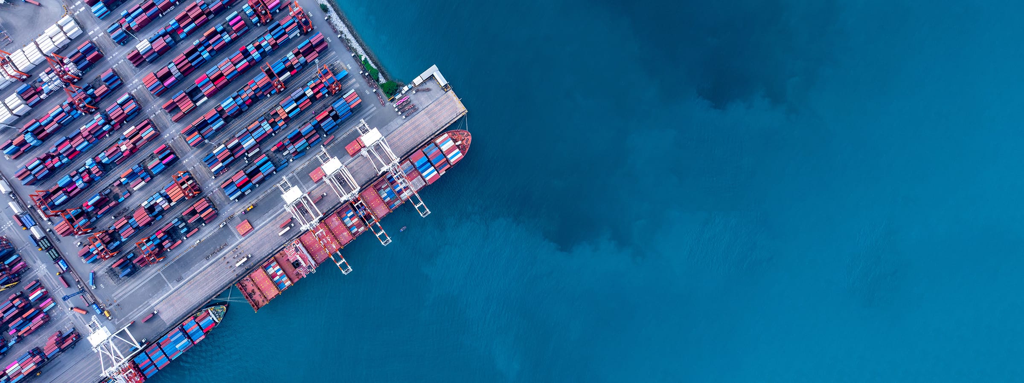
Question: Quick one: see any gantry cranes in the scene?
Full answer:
Yes, this view includes a gantry crane.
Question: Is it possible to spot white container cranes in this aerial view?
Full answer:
Yes, this view includes a white container crane.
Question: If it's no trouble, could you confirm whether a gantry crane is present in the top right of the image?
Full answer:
No, in the top right of the image there is no gantry crane.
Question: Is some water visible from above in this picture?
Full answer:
Yes, water shows up in the scene.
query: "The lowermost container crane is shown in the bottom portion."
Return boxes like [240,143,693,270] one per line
[84,313,155,383]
